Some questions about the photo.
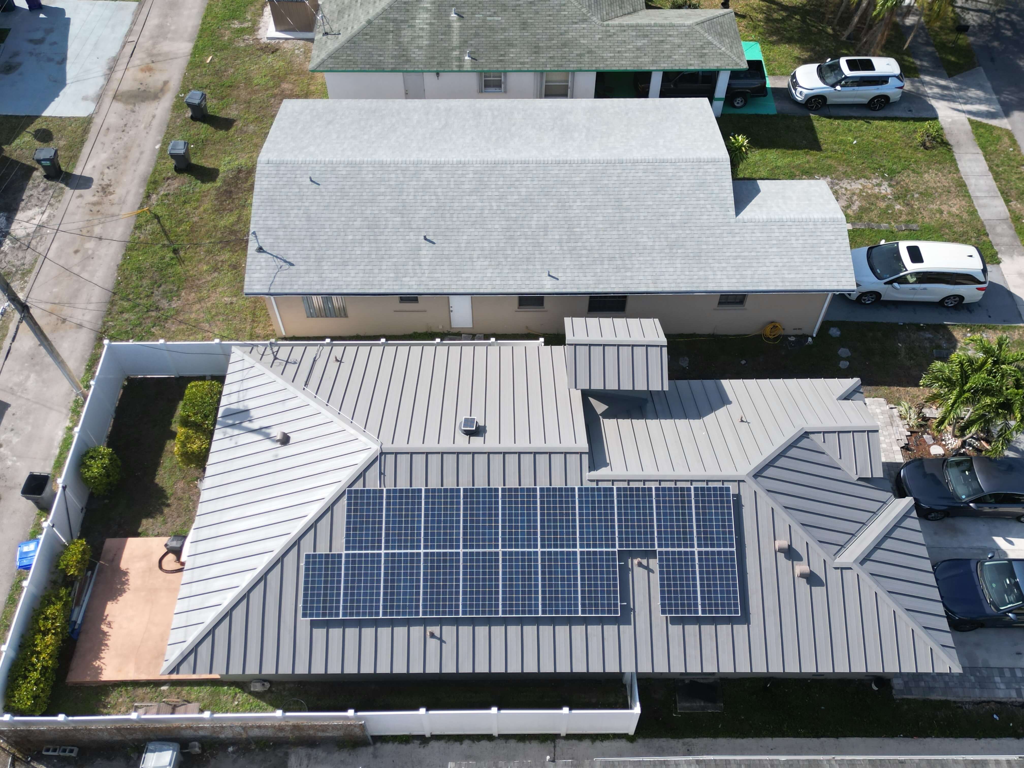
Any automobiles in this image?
Yes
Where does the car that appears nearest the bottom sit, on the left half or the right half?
right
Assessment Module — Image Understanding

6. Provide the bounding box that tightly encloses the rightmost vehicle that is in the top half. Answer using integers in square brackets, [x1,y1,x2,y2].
[844,239,991,308]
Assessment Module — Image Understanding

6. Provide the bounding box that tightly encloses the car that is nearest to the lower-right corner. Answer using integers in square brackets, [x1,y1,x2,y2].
[932,547,1024,632]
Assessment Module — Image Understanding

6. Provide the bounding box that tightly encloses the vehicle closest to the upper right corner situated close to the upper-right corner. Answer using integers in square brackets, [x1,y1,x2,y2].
[782,53,905,109]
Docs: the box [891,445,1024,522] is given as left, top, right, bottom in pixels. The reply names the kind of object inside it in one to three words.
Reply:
car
